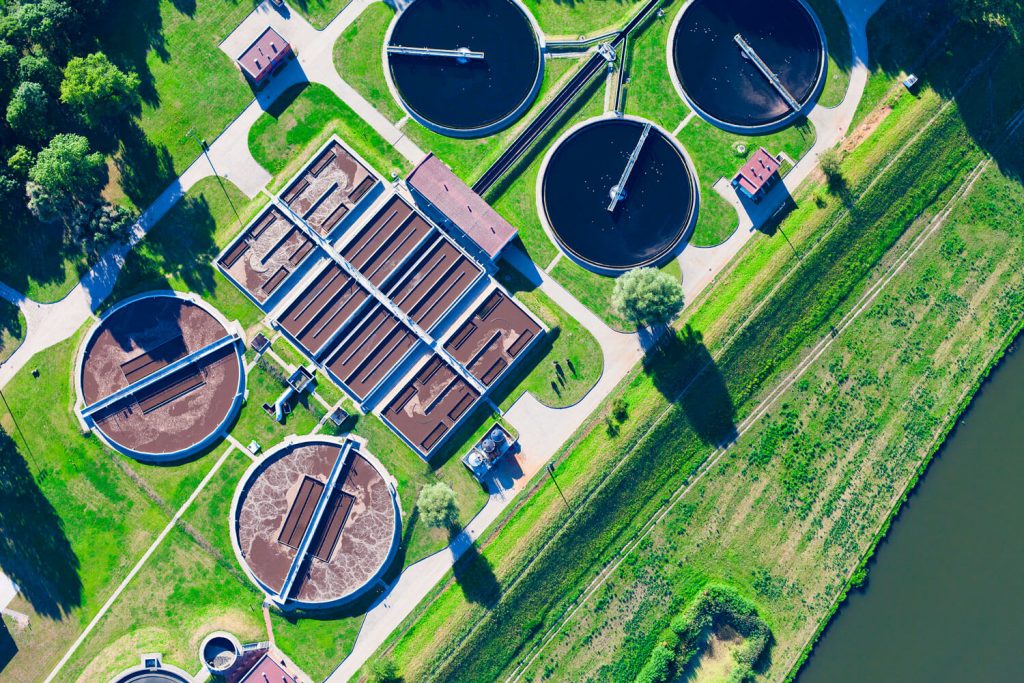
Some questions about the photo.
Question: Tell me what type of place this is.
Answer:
industrial area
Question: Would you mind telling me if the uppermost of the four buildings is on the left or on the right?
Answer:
left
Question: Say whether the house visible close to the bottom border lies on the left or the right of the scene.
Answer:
left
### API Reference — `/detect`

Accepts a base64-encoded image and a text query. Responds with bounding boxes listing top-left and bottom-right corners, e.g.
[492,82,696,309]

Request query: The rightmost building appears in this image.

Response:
[731,147,780,197]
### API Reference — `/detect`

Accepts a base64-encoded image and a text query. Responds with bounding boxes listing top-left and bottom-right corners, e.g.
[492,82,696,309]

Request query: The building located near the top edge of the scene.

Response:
[238,27,295,84]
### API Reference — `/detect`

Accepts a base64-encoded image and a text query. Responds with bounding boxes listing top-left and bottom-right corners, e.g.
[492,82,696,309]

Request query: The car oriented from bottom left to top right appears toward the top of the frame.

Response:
[902,72,919,87]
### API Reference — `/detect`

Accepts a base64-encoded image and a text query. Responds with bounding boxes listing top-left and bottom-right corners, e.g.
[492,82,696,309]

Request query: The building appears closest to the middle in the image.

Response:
[405,151,518,261]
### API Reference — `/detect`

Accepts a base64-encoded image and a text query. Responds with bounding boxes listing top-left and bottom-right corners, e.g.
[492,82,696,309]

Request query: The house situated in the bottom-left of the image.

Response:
[226,648,304,683]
